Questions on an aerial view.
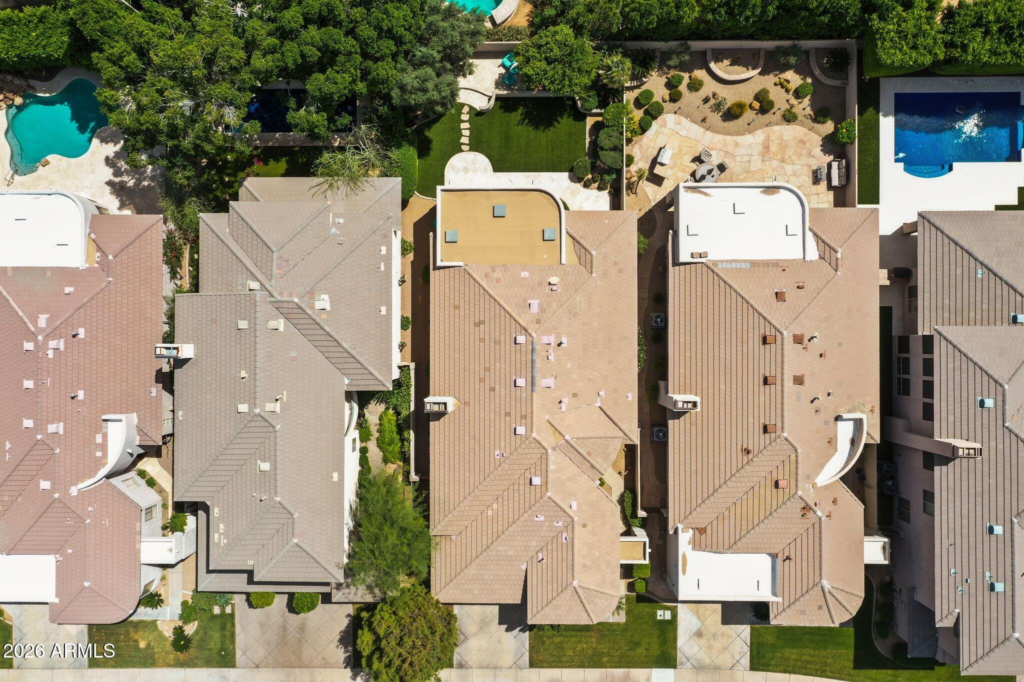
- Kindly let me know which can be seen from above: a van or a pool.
pool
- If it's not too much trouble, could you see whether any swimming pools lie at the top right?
Yes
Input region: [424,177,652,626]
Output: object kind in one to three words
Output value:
house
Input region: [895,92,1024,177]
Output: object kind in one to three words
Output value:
swimming pool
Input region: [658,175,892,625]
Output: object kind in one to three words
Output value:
house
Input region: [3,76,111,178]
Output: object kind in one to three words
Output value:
swimming pool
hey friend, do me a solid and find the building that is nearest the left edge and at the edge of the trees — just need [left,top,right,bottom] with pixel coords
[0,191,184,627]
